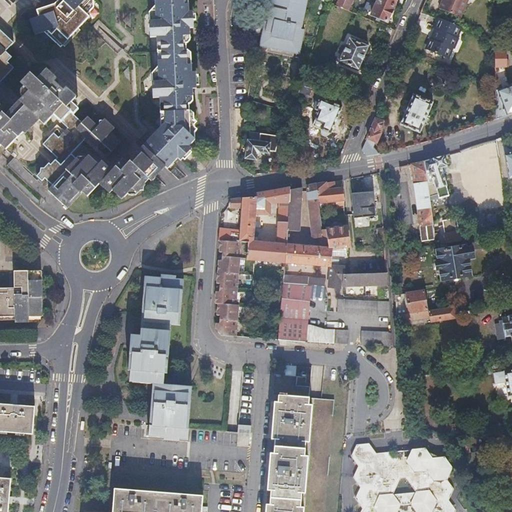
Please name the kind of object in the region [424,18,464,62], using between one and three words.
house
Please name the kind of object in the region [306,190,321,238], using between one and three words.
barn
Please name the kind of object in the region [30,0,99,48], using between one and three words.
building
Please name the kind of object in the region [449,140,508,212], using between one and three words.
sports field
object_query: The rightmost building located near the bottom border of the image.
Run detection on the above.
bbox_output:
[350,443,456,512]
